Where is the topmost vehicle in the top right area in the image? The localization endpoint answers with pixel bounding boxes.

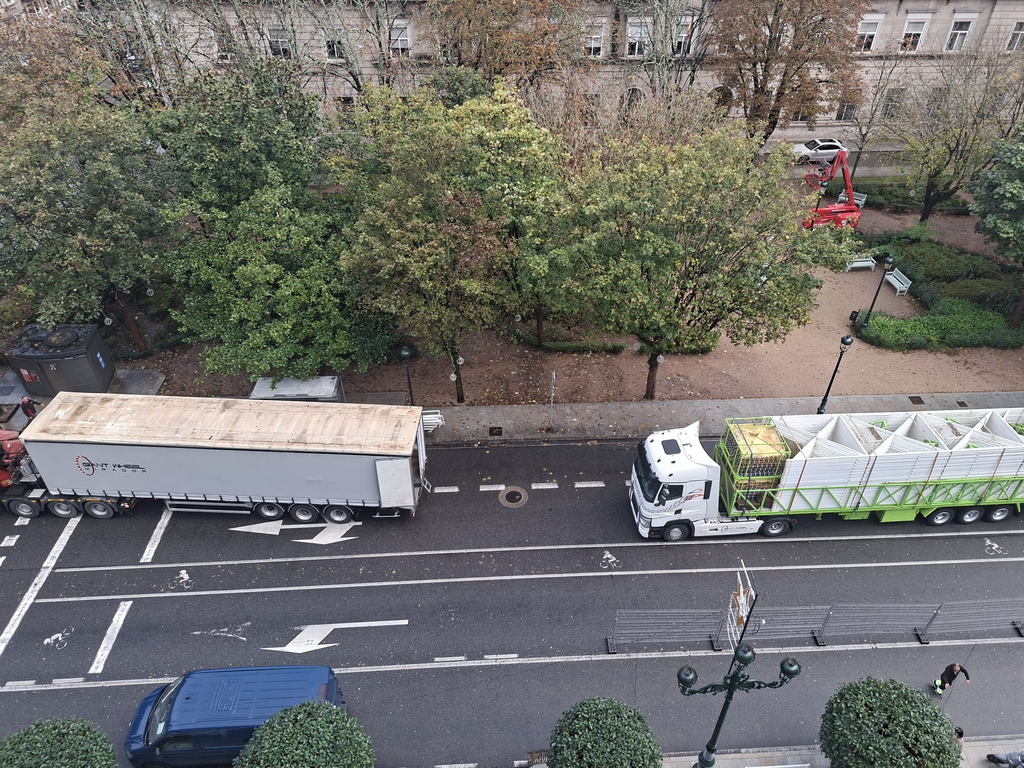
[783,140,837,166]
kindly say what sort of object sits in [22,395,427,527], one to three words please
trailer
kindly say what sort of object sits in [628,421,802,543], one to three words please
truck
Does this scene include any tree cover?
Yes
